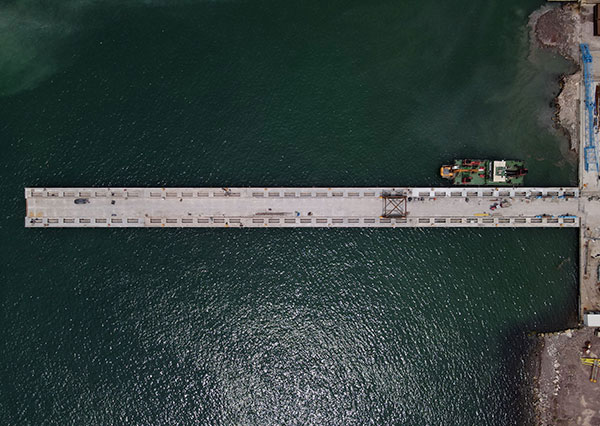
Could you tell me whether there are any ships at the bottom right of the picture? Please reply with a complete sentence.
No, there's no ship to be seen at the bottom right of the picture.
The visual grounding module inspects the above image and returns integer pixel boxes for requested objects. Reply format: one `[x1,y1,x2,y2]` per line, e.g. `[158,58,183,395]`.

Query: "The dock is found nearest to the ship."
[25,188,579,227]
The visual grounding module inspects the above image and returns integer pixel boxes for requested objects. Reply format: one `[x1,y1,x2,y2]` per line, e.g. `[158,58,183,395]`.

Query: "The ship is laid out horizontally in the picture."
[439,159,527,186]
